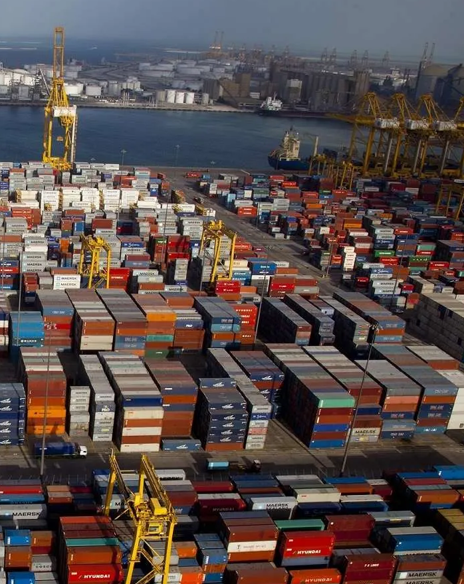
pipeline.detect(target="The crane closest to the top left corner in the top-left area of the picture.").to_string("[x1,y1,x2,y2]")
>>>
[41,28,81,167]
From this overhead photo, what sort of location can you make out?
industrial area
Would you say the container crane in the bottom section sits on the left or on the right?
left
